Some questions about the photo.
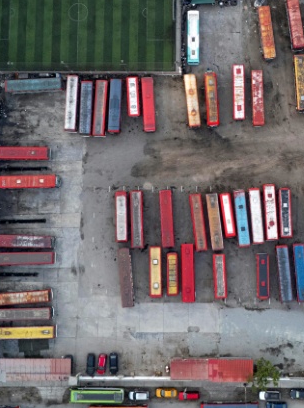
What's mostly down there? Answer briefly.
paved ground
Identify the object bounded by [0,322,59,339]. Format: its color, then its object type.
yellow vehicle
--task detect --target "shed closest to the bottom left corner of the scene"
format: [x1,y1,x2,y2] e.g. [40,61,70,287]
[0,353,74,382]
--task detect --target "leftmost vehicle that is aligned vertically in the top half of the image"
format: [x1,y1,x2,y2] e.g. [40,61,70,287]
[63,76,81,133]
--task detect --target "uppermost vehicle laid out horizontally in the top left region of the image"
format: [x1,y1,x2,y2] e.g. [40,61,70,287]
[5,78,65,94]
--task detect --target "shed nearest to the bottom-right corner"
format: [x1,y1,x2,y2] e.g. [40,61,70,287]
[170,355,253,382]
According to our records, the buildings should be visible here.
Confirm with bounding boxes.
[170,355,253,382]
[0,353,74,382]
